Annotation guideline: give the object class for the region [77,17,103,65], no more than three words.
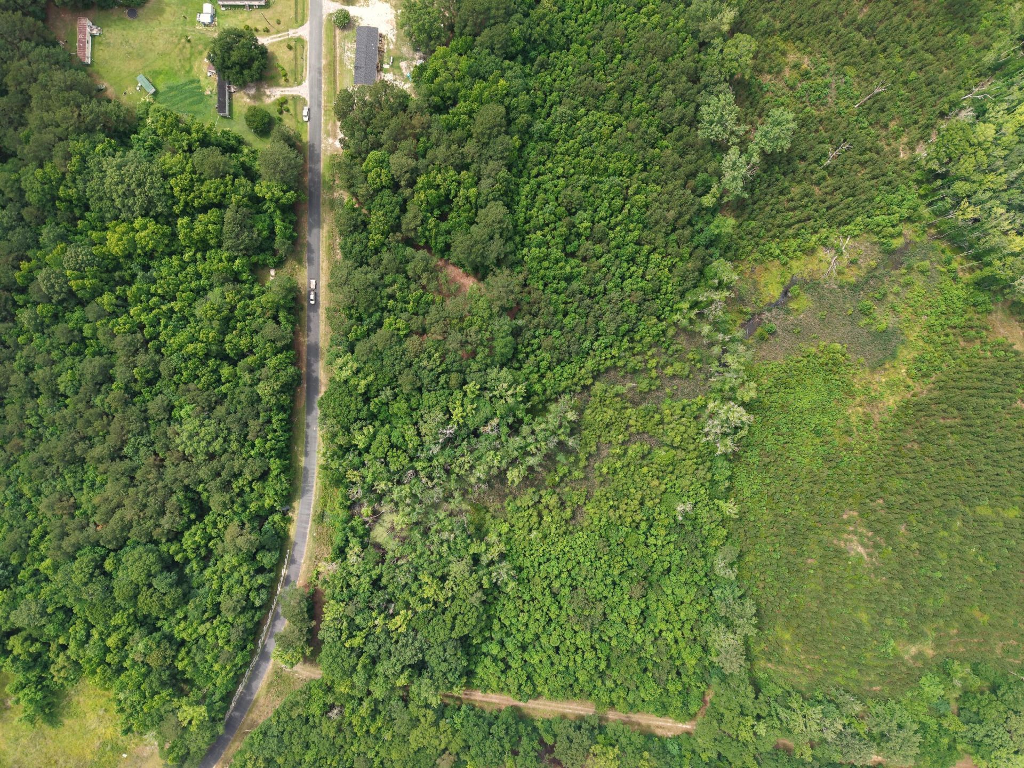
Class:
house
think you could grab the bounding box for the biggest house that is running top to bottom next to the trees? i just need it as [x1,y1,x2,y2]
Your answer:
[354,25,385,88]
